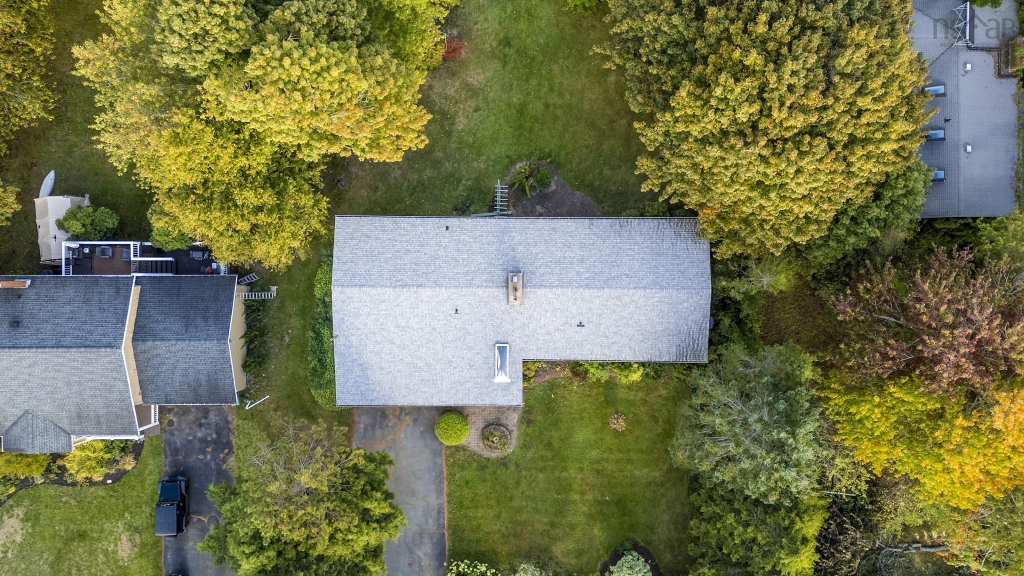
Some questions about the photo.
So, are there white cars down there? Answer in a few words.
No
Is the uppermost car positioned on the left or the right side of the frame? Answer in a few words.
left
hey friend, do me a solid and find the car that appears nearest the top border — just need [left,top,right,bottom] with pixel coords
[154,477,192,543]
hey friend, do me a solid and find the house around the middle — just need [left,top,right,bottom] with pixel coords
[331,215,712,407]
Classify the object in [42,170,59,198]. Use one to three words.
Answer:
boat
